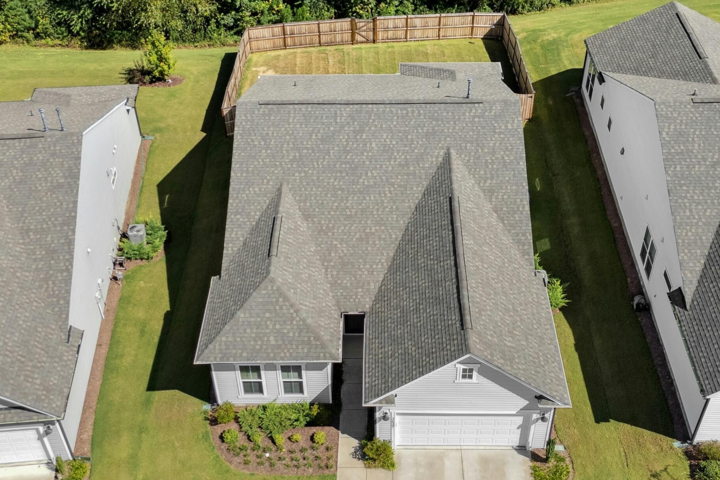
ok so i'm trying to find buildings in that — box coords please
[192,61,574,448]
[0,84,146,462]
[579,0,720,442]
